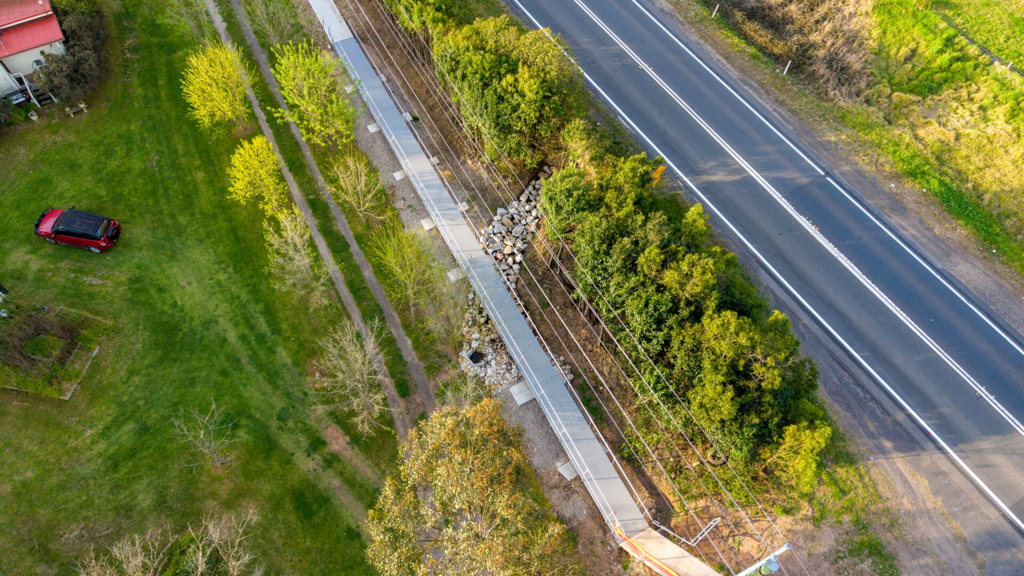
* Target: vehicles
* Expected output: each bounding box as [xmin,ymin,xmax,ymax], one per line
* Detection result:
[27,206,123,255]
